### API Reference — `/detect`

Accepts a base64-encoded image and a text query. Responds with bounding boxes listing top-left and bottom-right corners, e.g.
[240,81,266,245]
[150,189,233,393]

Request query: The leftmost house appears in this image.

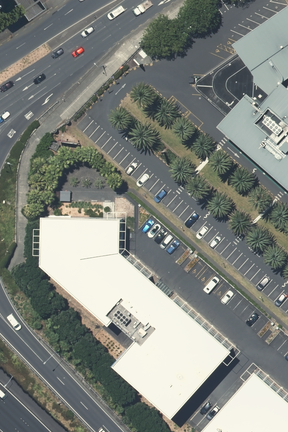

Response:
[16,0,46,21]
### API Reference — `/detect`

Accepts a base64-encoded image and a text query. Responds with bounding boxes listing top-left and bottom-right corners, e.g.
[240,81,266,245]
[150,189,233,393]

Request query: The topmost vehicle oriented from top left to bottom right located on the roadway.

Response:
[6,313,21,329]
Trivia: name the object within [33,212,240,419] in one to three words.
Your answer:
building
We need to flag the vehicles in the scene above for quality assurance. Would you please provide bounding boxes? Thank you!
[221,289,235,304]
[184,212,199,227]
[206,405,220,420]
[202,276,220,294]
[153,228,168,242]
[166,239,180,253]
[6,313,21,329]
[0,80,14,92]
[133,0,154,16]
[256,276,270,290]
[199,400,213,414]
[126,161,138,174]
[0,110,12,123]
[106,5,126,20]
[196,224,210,239]
[274,292,288,306]
[81,26,95,37]
[0,388,7,400]
[148,224,160,237]
[136,172,150,186]
[50,47,64,58]
[71,46,85,58]
[160,232,174,248]
[246,314,259,326]
[32,73,46,84]
[209,234,222,248]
